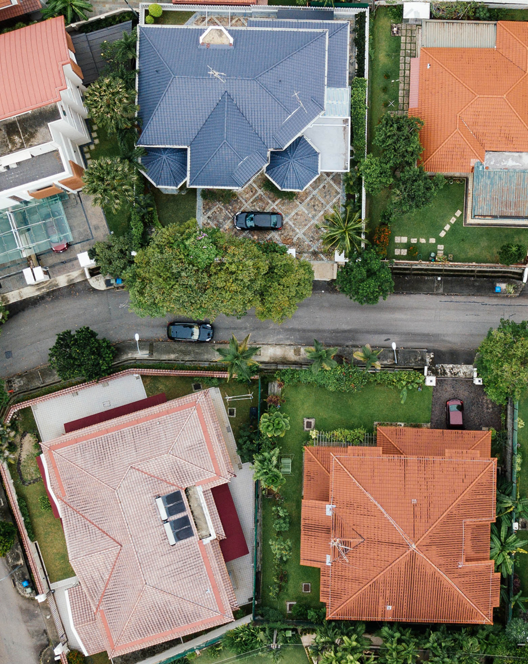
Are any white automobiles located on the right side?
No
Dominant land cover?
buildings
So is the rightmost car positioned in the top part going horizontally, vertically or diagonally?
horizontally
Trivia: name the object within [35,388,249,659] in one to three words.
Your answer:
house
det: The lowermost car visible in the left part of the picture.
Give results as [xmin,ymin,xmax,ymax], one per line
[165,319,216,343]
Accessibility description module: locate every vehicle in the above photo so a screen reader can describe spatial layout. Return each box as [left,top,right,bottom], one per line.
[40,211,72,258]
[235,208,284,232]
[443,394,466,430]
[165,319,216,343]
